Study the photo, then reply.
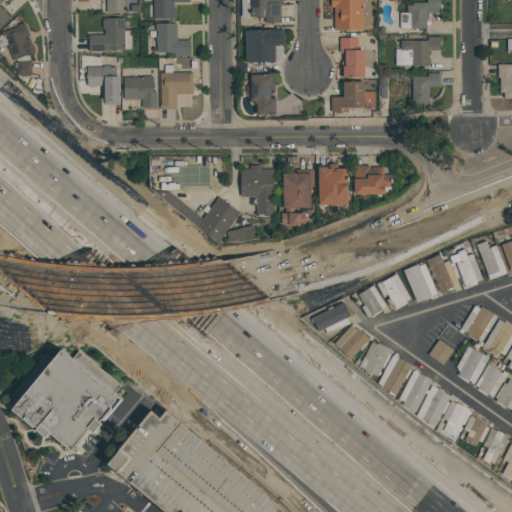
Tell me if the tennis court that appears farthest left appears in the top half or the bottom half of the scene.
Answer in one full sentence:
You can find the tennis court that appears farthest left in the top half.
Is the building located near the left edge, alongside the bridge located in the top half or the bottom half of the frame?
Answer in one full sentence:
It is in the bottom half that the building located near the left edge, alongside the bridge appears.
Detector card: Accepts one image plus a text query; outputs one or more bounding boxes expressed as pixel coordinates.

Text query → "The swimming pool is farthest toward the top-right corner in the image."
[381,3,394,24]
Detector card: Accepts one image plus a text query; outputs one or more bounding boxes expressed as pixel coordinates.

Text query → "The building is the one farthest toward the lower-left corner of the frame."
[10,350,123,451]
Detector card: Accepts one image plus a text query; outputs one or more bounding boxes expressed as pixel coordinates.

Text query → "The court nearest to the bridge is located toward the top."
[170,164,210,186]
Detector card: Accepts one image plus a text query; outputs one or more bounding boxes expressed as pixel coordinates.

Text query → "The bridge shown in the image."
[0,239,269,338]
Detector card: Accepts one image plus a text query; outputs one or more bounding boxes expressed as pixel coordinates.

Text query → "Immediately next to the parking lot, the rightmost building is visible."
[106,410,288,512]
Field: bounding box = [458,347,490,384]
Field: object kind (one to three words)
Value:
house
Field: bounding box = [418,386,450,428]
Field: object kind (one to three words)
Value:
house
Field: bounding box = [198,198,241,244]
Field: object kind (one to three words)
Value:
building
